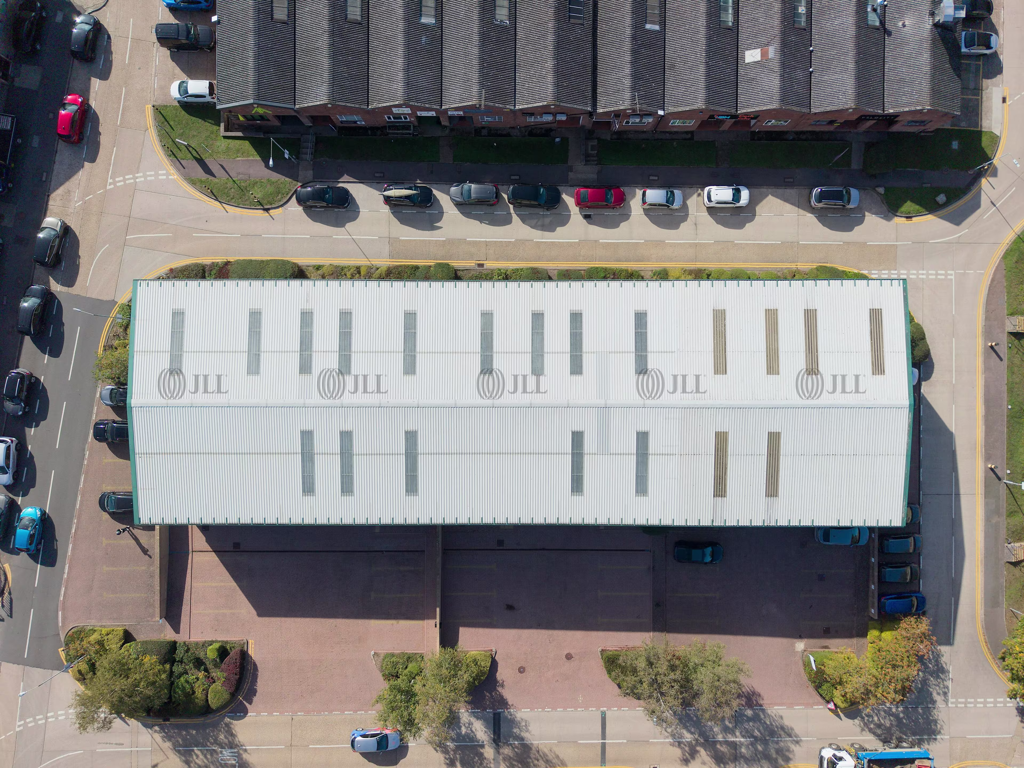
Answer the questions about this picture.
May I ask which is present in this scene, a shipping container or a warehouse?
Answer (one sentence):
The one in the frame is a warehouse.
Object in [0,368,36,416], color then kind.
black car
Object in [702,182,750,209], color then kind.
white car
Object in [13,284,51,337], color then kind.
black car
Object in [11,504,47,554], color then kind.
blue car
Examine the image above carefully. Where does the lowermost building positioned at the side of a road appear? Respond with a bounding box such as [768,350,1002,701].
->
[124,276,916,529]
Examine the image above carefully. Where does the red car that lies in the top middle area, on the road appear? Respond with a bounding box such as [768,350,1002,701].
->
[574,184,626,211]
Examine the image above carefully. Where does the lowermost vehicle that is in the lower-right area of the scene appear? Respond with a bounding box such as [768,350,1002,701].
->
[816,740,937,768]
